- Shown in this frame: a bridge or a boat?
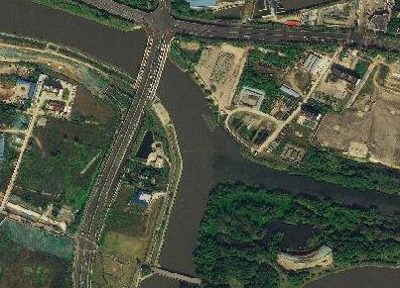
bridge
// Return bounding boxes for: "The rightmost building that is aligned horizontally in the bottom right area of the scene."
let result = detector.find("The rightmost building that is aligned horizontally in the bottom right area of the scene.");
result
[273,241,331,265]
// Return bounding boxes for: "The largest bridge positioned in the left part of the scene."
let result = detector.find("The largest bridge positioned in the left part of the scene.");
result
[125,29,168,104]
